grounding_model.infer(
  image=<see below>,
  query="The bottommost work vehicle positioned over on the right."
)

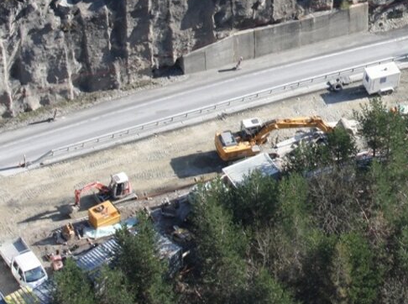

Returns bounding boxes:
[212,120,346,167]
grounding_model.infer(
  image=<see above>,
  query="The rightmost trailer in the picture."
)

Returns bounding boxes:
[355,60,408,97]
